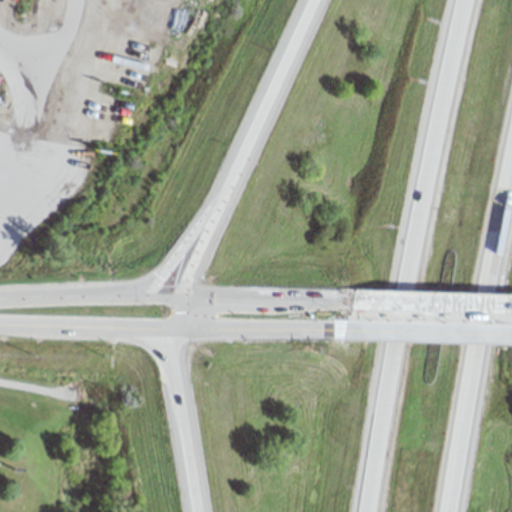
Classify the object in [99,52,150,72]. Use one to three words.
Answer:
vehicle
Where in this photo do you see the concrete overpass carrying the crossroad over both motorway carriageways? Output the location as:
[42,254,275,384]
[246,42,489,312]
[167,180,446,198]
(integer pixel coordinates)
[350,290,512,344]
